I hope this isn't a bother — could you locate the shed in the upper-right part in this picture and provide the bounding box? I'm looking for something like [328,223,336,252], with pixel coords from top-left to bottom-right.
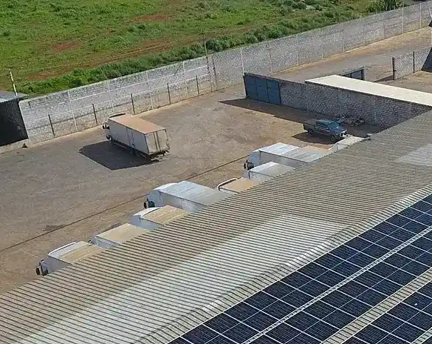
[307,74,432,107]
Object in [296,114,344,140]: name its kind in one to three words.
truck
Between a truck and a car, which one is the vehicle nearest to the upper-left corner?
truck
